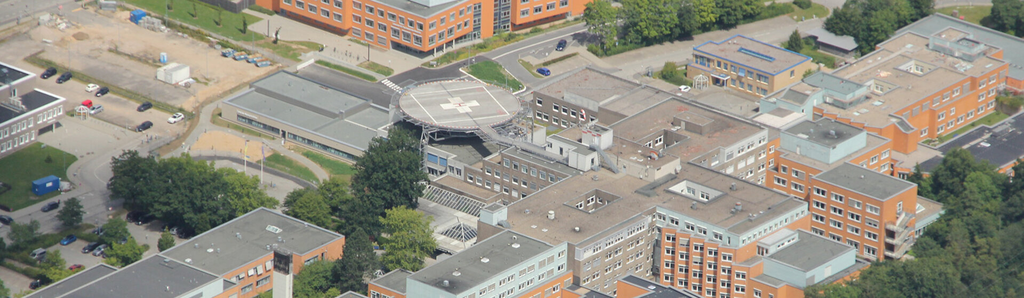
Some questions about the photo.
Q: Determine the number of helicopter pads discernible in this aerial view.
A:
one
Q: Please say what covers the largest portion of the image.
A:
buildings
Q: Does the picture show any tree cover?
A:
Yes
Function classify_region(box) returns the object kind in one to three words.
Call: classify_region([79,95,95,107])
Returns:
vehicle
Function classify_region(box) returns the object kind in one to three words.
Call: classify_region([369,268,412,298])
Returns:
building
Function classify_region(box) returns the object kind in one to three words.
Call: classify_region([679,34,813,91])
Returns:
house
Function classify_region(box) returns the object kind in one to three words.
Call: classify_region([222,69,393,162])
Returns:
building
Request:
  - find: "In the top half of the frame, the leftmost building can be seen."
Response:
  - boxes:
[0,60,66,157]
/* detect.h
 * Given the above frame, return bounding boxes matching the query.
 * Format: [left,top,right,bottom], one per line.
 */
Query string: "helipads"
[391,79,570,175]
